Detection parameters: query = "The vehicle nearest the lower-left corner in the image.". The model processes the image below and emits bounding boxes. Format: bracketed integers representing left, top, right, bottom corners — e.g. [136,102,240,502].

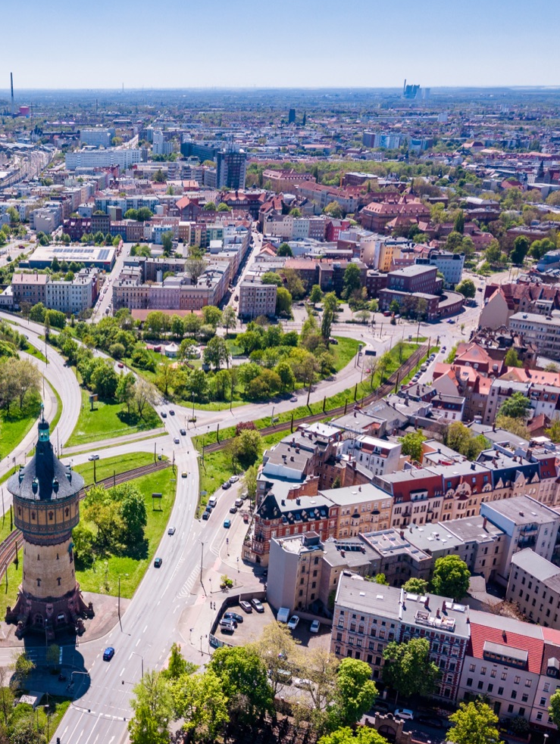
[102,646,115,661]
